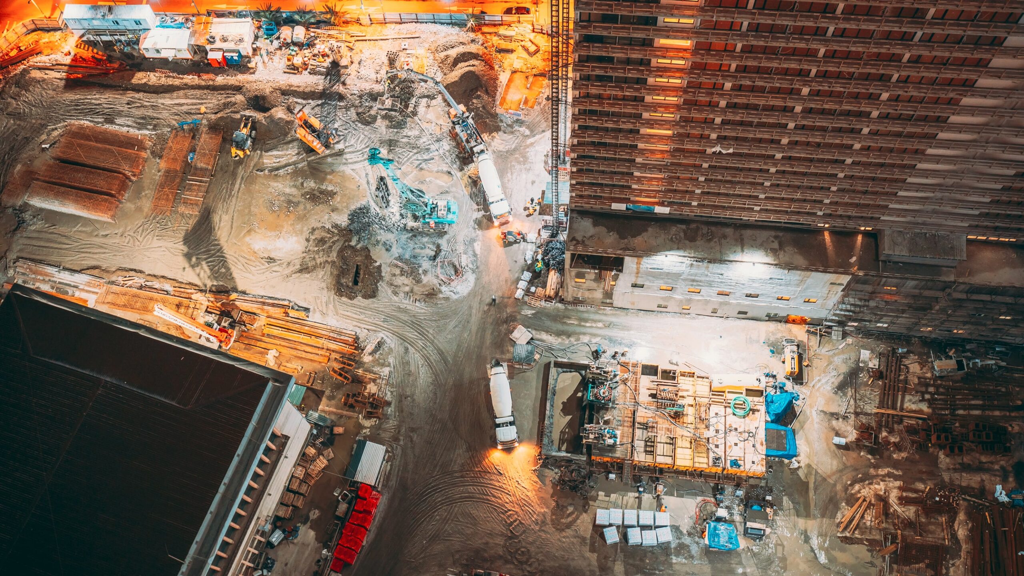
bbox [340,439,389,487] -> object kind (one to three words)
shed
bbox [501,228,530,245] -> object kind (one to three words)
work vehicle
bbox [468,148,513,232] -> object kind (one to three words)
truck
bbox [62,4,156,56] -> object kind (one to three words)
building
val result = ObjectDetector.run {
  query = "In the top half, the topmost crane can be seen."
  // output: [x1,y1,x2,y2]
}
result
[366,144,458,241]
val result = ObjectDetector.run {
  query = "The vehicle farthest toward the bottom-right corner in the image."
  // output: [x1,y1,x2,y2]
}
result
[781,339,799,374]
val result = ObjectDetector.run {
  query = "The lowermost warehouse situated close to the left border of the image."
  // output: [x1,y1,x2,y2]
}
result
[0,284,296,576]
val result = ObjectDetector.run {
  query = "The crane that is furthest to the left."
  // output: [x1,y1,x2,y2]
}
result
[153,302,244,356]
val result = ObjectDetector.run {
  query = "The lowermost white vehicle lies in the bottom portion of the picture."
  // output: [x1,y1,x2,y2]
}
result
[485,357,520,452]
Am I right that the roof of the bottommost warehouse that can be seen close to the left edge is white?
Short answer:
No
